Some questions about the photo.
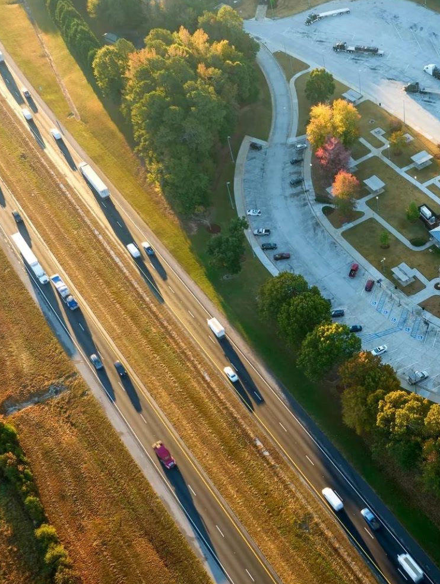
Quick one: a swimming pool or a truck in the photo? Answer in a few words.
truck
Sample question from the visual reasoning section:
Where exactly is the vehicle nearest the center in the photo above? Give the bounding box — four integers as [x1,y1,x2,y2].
[207,319,227,341]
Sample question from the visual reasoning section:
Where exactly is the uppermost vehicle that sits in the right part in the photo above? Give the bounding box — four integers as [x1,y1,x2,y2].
[305,8,352,27]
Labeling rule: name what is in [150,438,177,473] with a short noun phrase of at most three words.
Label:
truck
